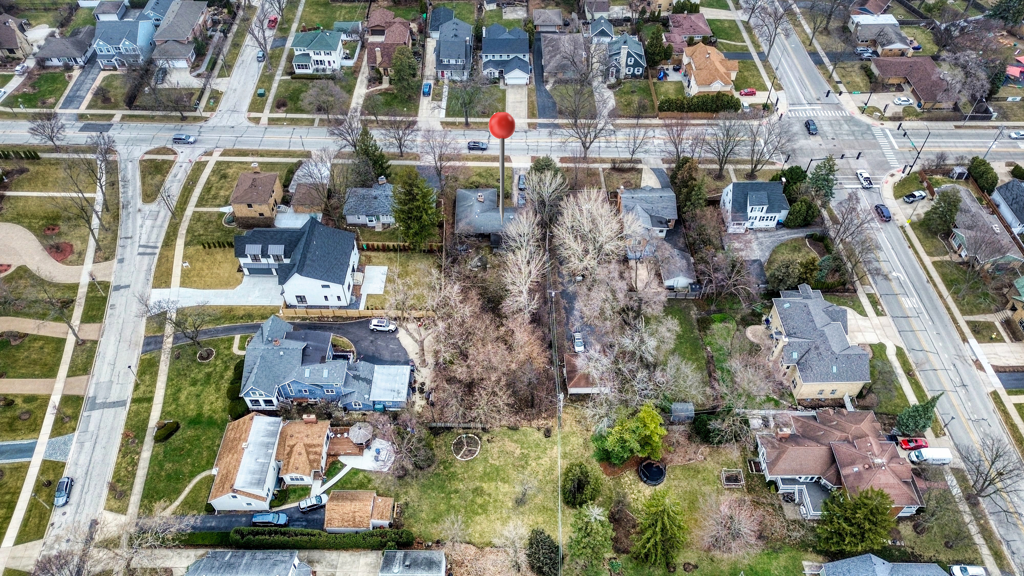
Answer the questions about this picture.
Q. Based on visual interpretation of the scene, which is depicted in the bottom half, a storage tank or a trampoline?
trampoline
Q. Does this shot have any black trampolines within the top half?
No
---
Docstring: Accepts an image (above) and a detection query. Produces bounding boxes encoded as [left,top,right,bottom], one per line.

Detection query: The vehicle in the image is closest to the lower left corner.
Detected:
[49,474,81,510]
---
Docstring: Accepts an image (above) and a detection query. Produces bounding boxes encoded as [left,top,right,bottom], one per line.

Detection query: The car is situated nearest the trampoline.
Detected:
[571,328,587,353]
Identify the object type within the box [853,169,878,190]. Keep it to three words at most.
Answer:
truck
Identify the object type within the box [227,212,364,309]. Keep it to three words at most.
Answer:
house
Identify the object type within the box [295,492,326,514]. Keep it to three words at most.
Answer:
car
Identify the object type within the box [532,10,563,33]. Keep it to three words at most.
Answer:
building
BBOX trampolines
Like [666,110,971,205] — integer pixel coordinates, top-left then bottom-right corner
[639,455,668,486]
